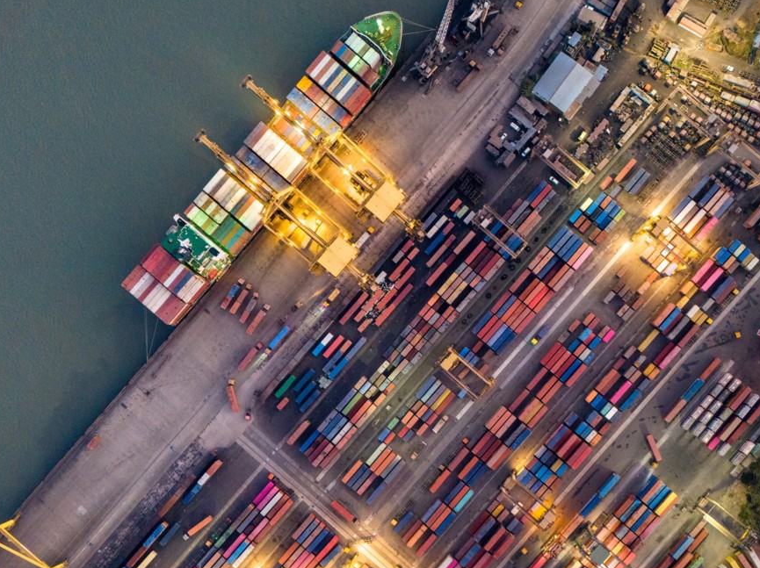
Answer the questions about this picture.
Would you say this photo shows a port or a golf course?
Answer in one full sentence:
This looks like a port.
